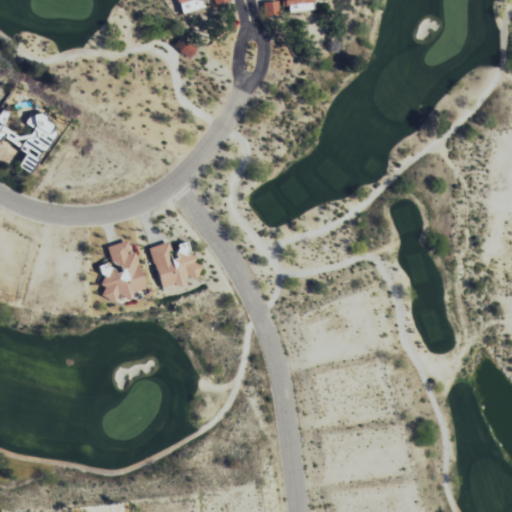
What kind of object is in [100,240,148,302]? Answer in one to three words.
house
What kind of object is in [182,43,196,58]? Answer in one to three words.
gazebo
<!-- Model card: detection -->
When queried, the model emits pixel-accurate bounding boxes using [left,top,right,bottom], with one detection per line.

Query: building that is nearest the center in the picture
[147,241,204,295]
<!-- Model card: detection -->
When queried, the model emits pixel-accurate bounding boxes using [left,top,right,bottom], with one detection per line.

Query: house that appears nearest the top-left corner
[0,110,58,172]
